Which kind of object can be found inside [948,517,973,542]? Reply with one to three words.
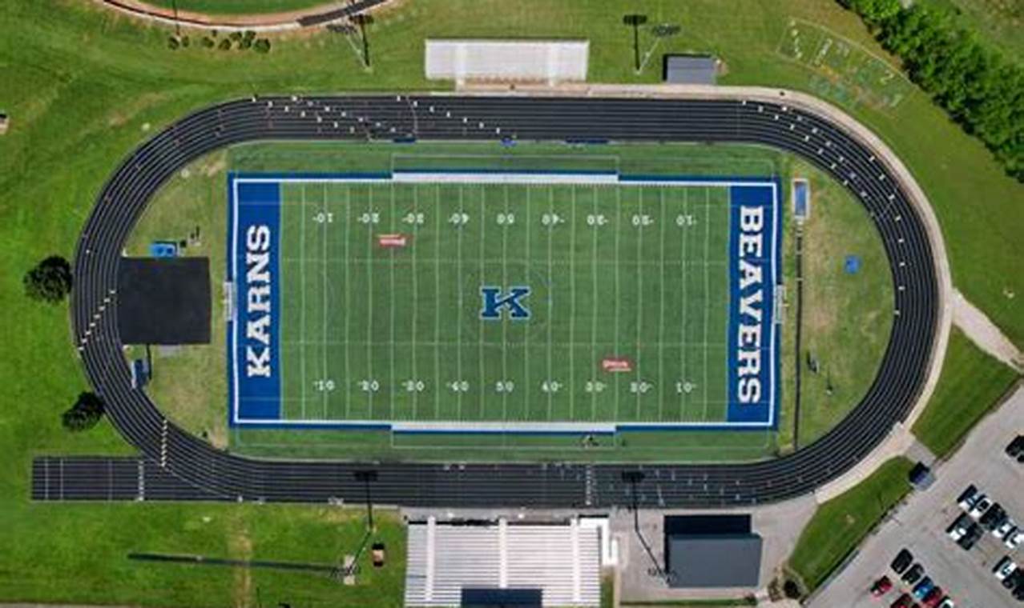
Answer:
vehicle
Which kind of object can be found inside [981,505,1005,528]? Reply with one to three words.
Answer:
car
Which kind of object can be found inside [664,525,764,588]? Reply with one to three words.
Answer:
building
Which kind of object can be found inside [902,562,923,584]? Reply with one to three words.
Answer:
car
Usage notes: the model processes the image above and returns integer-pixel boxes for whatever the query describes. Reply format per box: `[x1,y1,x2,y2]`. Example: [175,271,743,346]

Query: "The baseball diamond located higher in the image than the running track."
[115,0,356,23]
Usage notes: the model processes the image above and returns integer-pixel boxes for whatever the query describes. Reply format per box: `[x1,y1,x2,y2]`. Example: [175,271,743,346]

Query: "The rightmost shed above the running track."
[666,55,717,87]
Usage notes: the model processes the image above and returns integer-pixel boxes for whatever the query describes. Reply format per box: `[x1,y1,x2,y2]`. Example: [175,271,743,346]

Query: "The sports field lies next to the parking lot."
[229,141,781,462]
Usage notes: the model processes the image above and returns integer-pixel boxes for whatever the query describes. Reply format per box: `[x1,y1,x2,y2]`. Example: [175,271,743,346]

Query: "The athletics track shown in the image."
[32,95,938,506]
